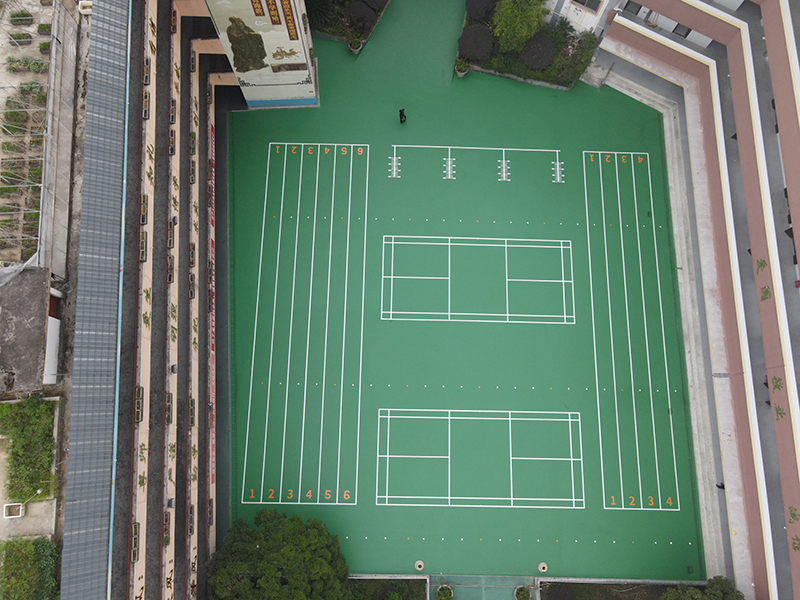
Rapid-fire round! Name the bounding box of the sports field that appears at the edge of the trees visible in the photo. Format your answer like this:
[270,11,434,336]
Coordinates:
[227,0,707,580]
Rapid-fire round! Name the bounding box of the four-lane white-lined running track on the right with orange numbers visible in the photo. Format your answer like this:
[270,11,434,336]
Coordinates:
[583,152,680,510]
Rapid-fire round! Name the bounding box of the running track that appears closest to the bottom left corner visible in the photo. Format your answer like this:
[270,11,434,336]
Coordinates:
[241,144,369,505]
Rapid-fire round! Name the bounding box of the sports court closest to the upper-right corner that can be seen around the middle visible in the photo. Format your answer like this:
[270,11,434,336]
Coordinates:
[381,236,575,323]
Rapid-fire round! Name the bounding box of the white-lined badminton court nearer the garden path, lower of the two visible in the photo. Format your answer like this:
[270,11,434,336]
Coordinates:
[377,409,584,509]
